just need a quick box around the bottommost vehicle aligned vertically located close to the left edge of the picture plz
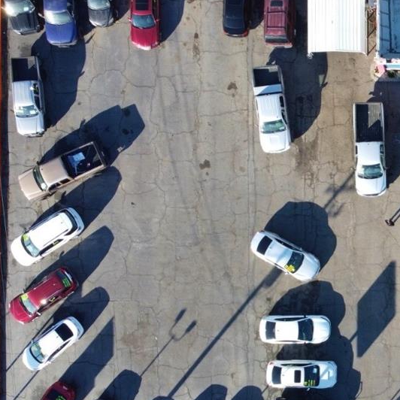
[7,55,50,139]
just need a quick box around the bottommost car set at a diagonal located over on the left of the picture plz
[25,314,87,369]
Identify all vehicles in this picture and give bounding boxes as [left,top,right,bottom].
[253,230,318,281]
[253,64,293,154]
[7,55,50,139]
[223,0,253,37]
[40,378,78,400]
[84,0,120,29]
[352,102,388,198]
[2,0,44,36]
[13,266,82,323]
[25,314,87,369]
[262,0,298,47]
[128,0,163,50]
[268,359,338,391]
[40,0,80,48]
[21,141,109,199]
[261,314,333,346]
[15,208,86,264]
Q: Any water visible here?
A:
No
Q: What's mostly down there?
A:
paved ground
